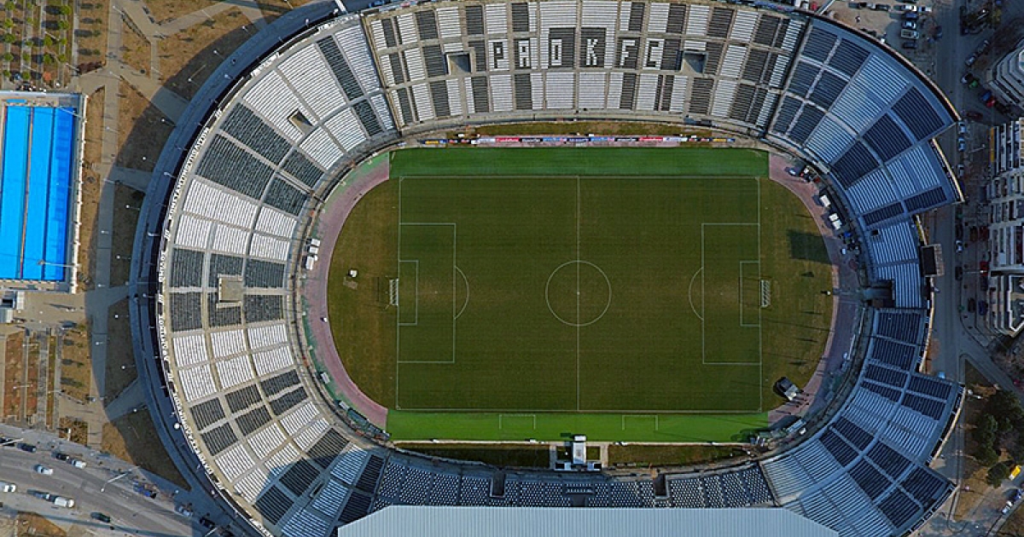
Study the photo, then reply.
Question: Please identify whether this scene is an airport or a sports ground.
sports ground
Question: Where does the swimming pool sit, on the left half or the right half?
left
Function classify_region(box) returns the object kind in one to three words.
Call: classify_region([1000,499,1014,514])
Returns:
car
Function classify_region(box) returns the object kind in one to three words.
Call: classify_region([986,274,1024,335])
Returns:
building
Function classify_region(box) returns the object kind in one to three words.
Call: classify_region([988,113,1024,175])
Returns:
building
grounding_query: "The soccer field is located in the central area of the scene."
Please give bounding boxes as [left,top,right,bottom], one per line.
[328,149,833,442]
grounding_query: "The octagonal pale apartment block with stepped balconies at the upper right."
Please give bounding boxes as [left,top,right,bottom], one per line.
[989,31,1024,112]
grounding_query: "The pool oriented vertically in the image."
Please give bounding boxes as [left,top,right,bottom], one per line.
[0,90,91,293]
